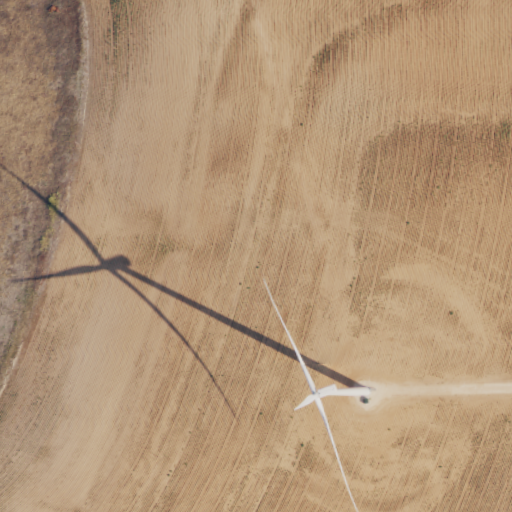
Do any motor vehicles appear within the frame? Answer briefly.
No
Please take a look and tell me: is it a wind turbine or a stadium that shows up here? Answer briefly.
wind turbine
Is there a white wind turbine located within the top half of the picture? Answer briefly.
No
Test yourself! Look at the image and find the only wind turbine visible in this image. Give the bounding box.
[261,274,376,512]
